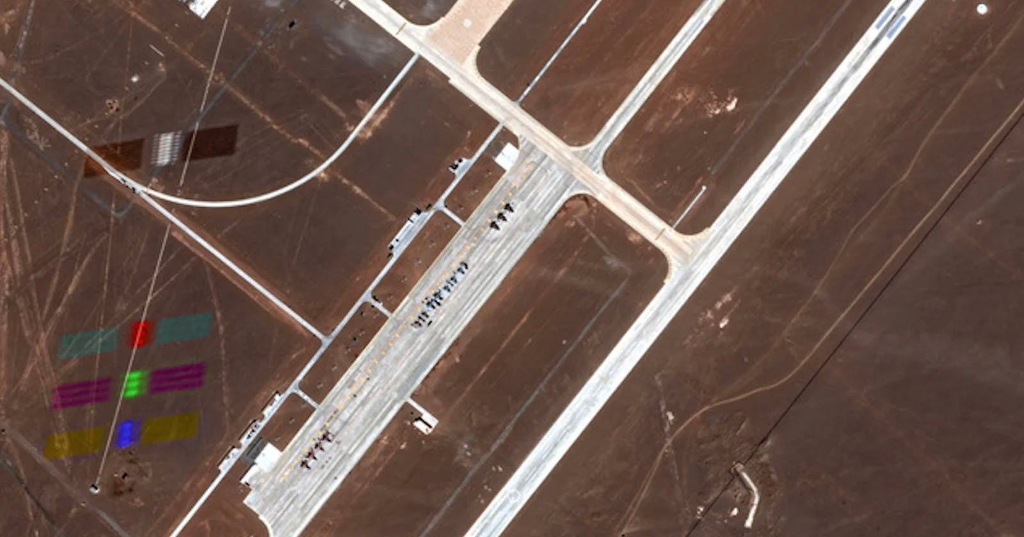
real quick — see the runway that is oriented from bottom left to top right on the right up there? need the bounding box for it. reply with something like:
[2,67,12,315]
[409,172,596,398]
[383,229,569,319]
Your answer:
[464,0,925,537]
